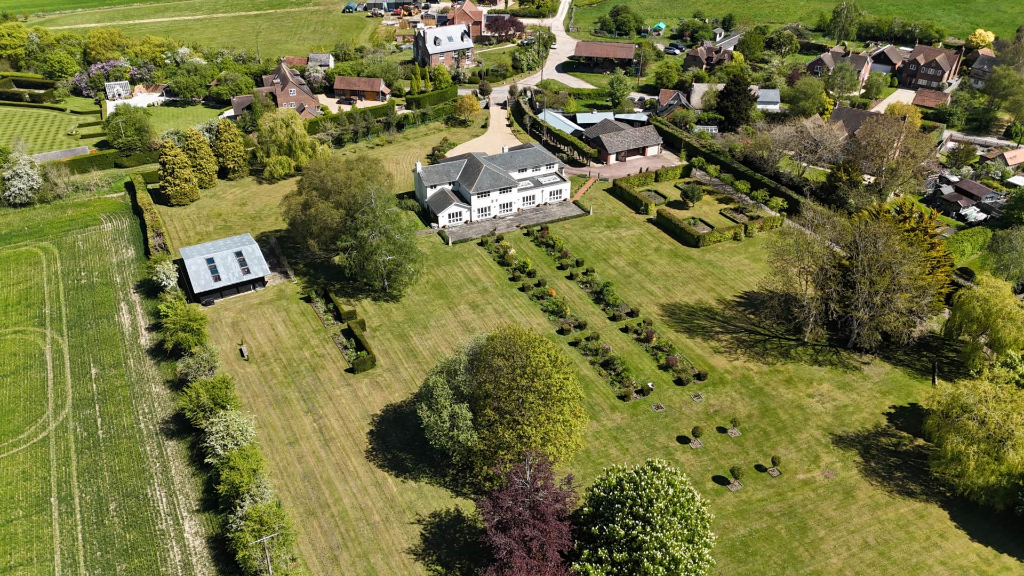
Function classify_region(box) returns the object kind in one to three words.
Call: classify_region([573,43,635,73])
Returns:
barn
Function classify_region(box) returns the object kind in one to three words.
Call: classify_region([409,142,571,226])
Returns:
house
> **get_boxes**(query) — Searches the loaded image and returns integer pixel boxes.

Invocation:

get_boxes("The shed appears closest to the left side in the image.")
[30,142,89,170]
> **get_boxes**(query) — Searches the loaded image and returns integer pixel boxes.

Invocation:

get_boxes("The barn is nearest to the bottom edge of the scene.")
[176,233,272,304]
